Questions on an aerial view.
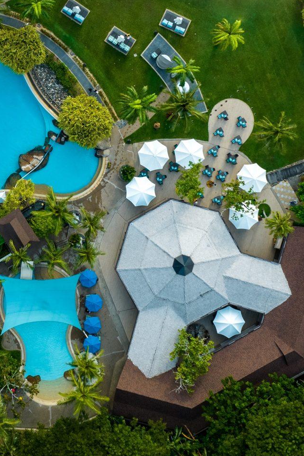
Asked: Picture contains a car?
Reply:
No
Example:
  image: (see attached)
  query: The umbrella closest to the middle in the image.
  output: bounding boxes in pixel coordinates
[123,174,157,208]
